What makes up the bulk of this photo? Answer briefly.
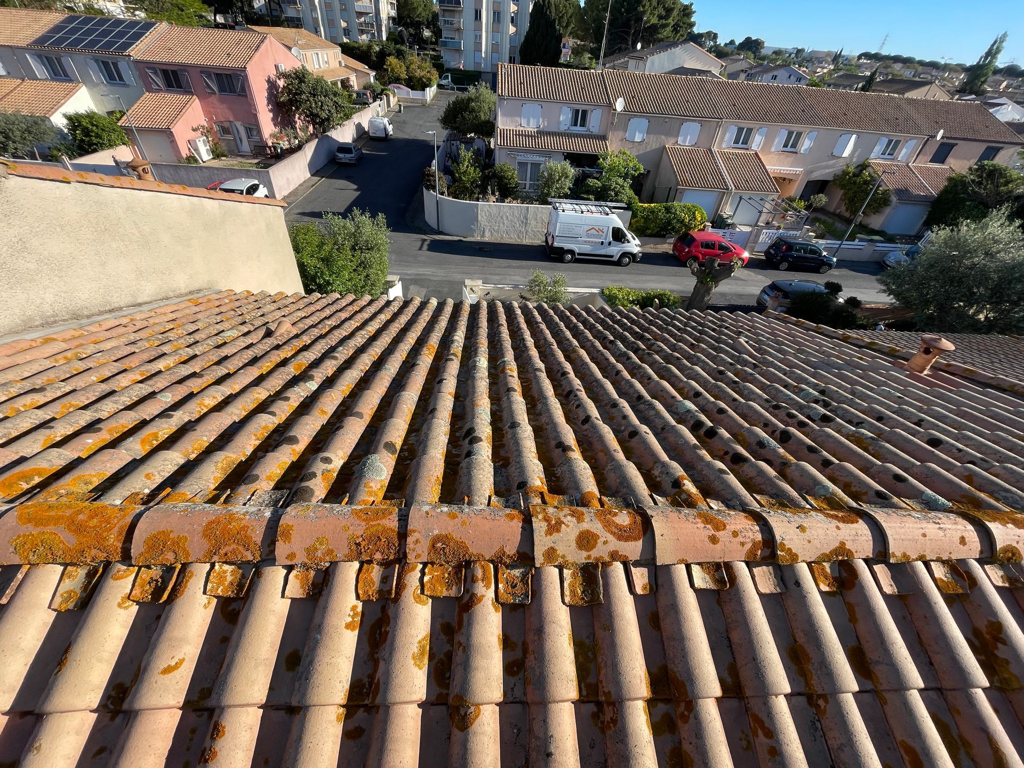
buildings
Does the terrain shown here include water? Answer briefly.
No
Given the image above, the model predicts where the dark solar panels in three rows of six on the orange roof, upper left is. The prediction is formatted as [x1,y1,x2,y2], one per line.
[31,13,158,51]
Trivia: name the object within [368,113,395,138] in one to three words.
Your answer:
vehicle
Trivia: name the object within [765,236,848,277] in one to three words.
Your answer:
car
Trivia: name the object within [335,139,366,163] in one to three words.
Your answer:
car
